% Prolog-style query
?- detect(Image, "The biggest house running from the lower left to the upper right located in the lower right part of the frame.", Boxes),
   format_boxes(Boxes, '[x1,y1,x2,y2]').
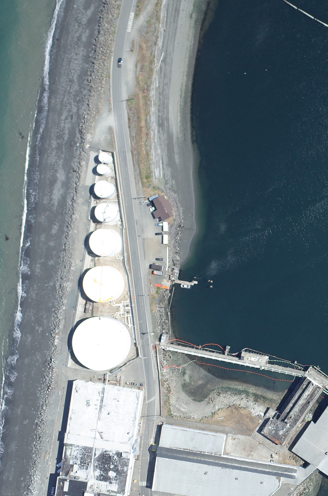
[251,377,325,445]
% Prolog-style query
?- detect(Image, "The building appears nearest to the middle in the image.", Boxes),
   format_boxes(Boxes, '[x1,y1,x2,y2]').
[153,195,174,221]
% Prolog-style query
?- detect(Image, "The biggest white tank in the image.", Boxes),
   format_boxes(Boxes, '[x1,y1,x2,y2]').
[71,316,132,371]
